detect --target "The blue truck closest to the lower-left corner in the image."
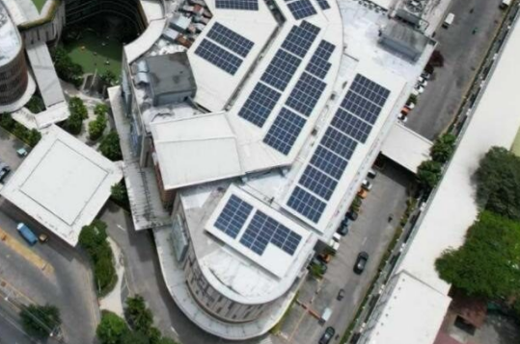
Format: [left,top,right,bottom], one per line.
[16,221,38,248]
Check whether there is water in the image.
No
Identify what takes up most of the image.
buildings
